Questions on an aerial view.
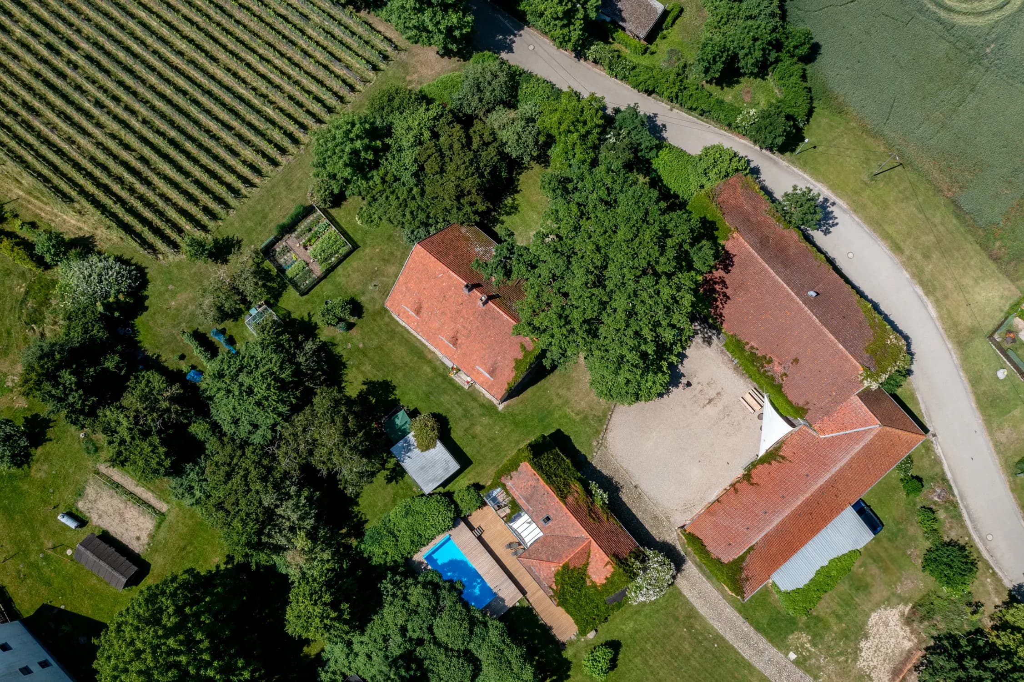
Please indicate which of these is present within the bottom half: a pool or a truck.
pool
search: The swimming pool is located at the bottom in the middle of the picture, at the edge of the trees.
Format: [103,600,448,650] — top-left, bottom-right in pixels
[414,518,523,618]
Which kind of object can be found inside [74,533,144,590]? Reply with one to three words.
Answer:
shed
